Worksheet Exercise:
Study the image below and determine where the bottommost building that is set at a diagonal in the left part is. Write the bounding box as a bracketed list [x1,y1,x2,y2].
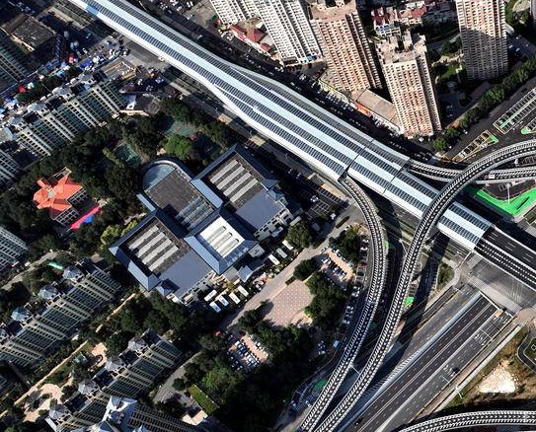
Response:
[56,322,181,424]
